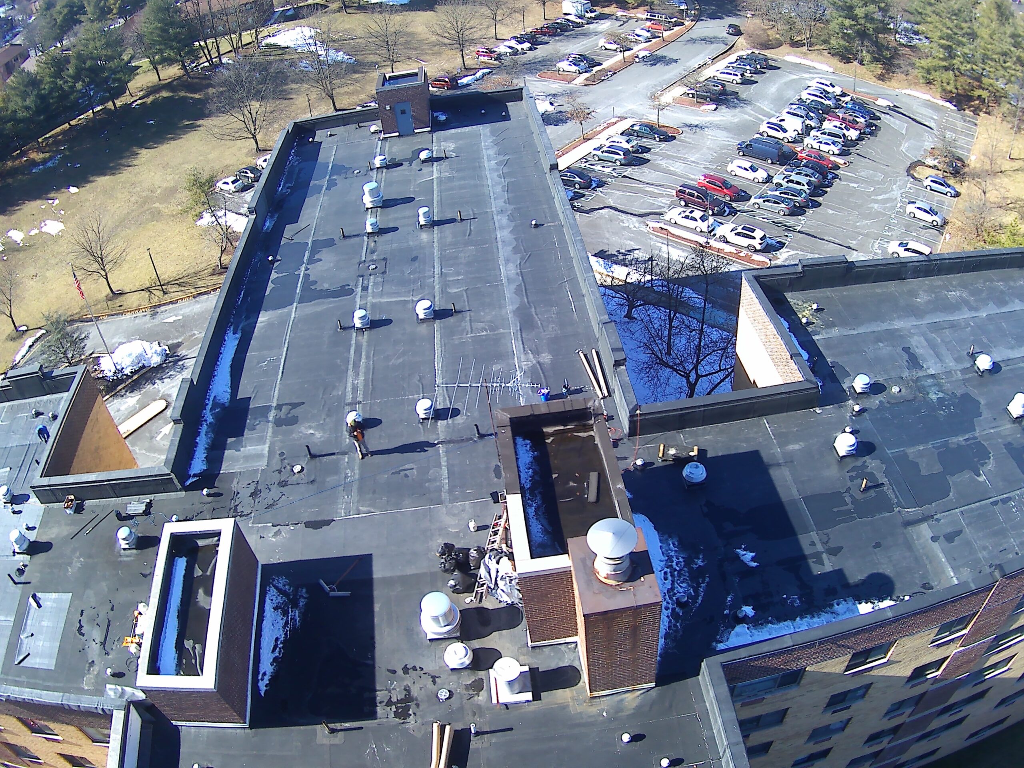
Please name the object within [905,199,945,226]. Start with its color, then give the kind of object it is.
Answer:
white car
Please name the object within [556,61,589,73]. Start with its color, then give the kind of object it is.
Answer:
white vehicle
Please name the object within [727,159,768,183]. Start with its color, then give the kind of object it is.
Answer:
white car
